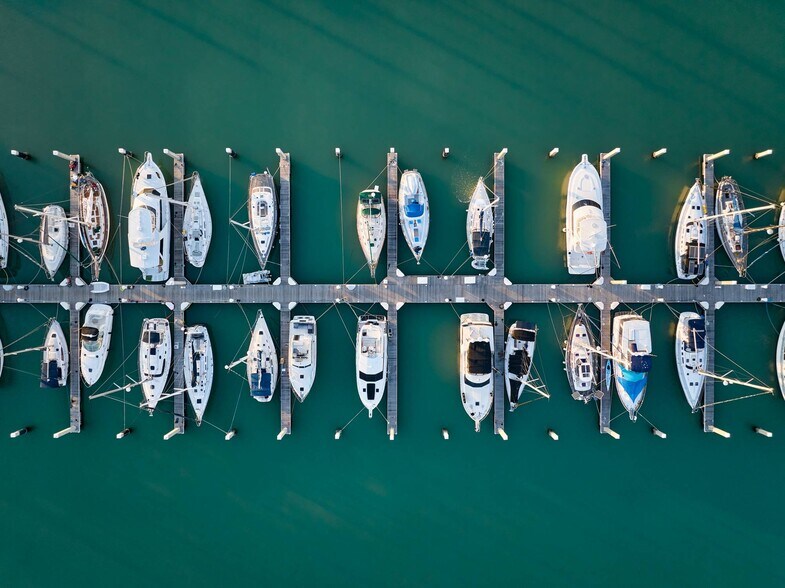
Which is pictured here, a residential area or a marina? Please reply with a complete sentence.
The picture captures a marina.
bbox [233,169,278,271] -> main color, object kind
white boat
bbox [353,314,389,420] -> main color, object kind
white boat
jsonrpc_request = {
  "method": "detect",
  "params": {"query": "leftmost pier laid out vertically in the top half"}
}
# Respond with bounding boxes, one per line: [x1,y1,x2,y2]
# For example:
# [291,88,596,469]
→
[69,153,82,285]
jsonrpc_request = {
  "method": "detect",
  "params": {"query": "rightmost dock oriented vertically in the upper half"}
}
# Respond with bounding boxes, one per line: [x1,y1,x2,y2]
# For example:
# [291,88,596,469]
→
[702,153,718,285]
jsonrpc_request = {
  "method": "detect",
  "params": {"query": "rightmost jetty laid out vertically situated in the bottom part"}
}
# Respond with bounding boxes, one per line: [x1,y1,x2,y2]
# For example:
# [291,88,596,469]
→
[695,304,715,435]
